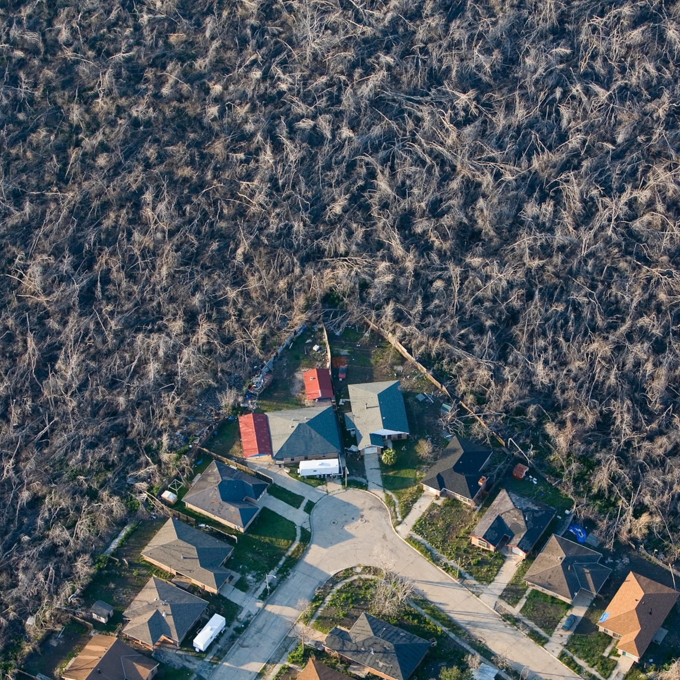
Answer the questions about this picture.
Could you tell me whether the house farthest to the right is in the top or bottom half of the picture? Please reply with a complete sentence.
It is in the bottom half that the house farthest to the right appears.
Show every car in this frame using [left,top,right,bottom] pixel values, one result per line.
[338,364,347,379]
[305,637,325,651]
[561,613,579,632]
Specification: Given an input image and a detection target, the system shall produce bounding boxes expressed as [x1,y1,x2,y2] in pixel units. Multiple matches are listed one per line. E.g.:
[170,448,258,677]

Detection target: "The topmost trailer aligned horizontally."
[296,459,339,479]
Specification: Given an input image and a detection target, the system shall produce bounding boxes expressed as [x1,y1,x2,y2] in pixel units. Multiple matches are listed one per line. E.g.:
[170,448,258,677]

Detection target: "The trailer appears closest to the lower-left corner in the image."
[193,615,225,652]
